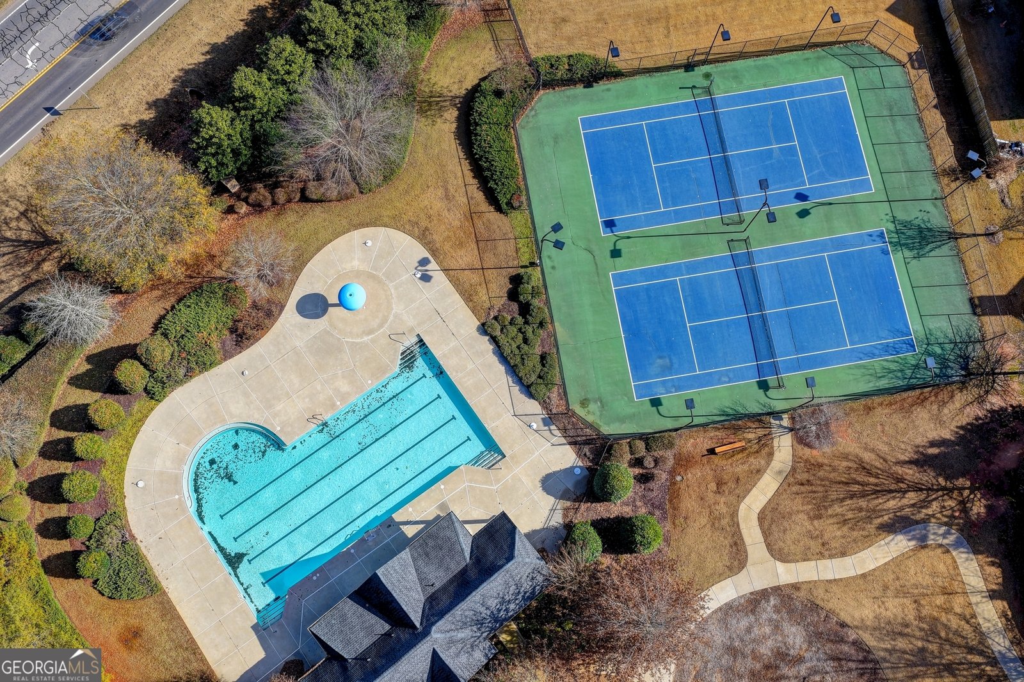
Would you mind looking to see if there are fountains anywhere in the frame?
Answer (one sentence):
Yes, you can see a fountain in this photo.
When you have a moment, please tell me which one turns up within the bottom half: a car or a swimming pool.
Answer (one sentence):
You can see a swimming pool within the bottom half.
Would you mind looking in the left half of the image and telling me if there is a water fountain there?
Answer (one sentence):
Yes, the scene does show a water fountain in the left half of the image.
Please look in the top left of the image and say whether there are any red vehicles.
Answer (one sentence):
No, there is no red vehicle in the top left of the image.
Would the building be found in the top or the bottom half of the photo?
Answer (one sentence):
Seen from above, the building lies in the bottom half of the view.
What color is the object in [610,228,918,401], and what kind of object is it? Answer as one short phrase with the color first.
blue tennis court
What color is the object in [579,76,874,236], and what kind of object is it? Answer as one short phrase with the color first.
blue tennis court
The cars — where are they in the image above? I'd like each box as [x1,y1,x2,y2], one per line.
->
[82,6,134,52]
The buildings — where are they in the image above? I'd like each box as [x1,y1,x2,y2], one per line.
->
[301,509,552,682]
